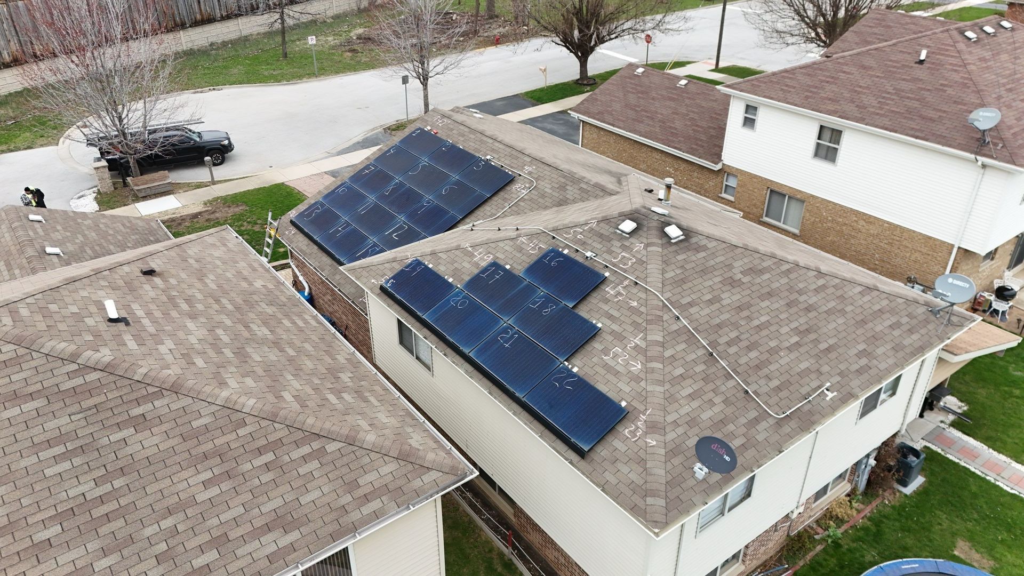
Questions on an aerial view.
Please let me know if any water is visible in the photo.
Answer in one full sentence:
No, water can't be seen anywhere here.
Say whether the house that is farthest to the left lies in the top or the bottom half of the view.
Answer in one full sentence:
You can find the house that is farthest to the left in the bottom half.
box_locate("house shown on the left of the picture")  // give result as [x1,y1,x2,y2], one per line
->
[0,206,476,576]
